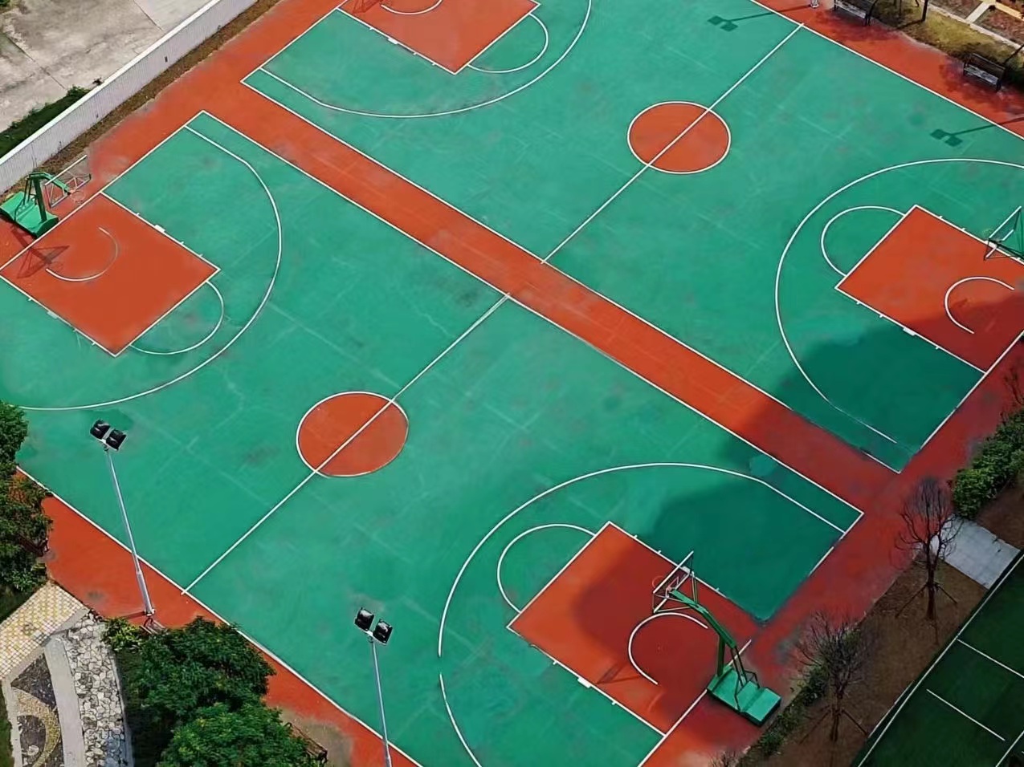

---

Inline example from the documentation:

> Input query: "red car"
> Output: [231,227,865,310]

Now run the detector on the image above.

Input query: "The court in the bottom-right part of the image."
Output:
[849,554,1024,767]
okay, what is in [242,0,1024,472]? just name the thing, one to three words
basketball court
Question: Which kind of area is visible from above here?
sports ground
